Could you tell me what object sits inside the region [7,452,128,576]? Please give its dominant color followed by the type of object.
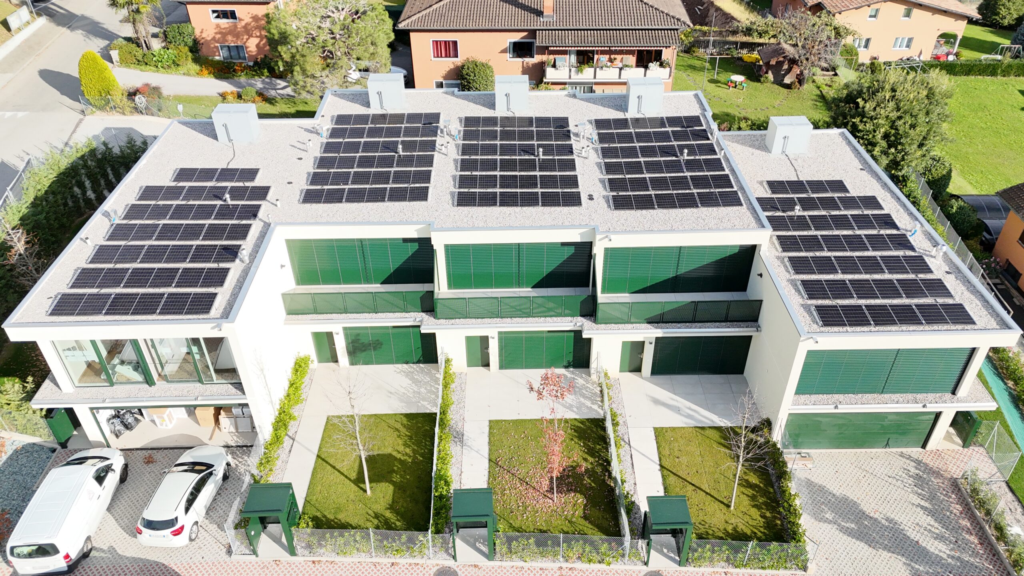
white van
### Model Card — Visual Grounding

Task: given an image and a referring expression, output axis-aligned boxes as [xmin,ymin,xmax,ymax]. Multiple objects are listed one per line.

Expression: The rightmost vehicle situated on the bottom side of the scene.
[131,453,227,555]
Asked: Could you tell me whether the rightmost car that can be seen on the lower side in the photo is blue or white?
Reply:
white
